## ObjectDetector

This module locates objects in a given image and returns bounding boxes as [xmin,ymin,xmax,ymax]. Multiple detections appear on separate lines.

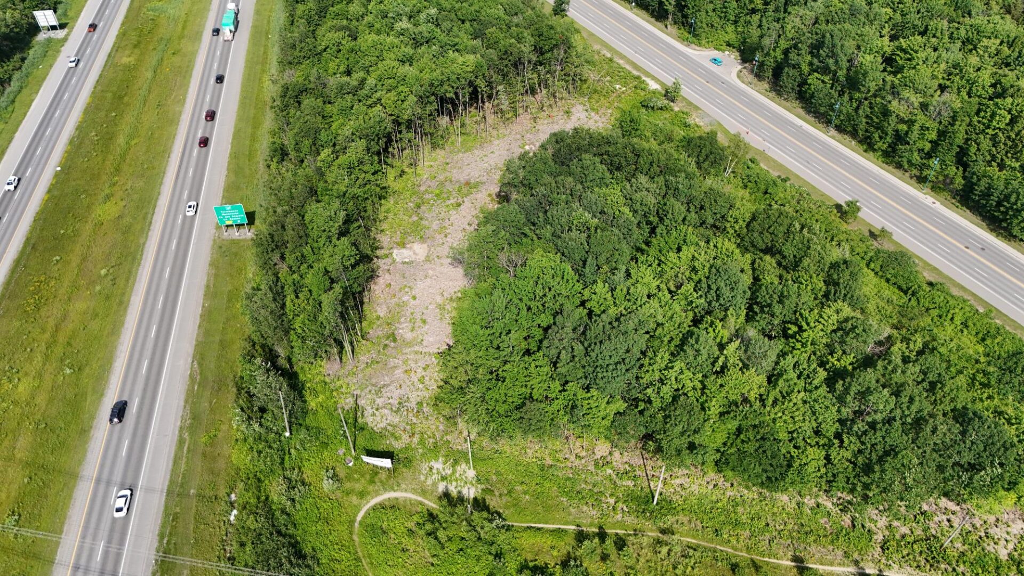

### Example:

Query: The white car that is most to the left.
[4,176,18,190]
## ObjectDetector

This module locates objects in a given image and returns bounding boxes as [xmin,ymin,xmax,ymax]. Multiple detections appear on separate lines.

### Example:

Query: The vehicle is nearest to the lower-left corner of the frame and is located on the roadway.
[113,488,132,518]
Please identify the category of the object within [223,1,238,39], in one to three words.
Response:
vehicle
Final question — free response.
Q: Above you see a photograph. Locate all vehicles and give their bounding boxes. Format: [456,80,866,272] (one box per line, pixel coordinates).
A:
[205,109,215,120]
[223,1,238,39]
[88,23,96,31]
[108,399,127,424]
[113,488,132,518]
[215,73,224,83]
[68,57,79,66]
[4,176,18,190]
[198,135,208,147]
[186,202,197,215]
[212,27,220,35]
[709,58,724,66]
